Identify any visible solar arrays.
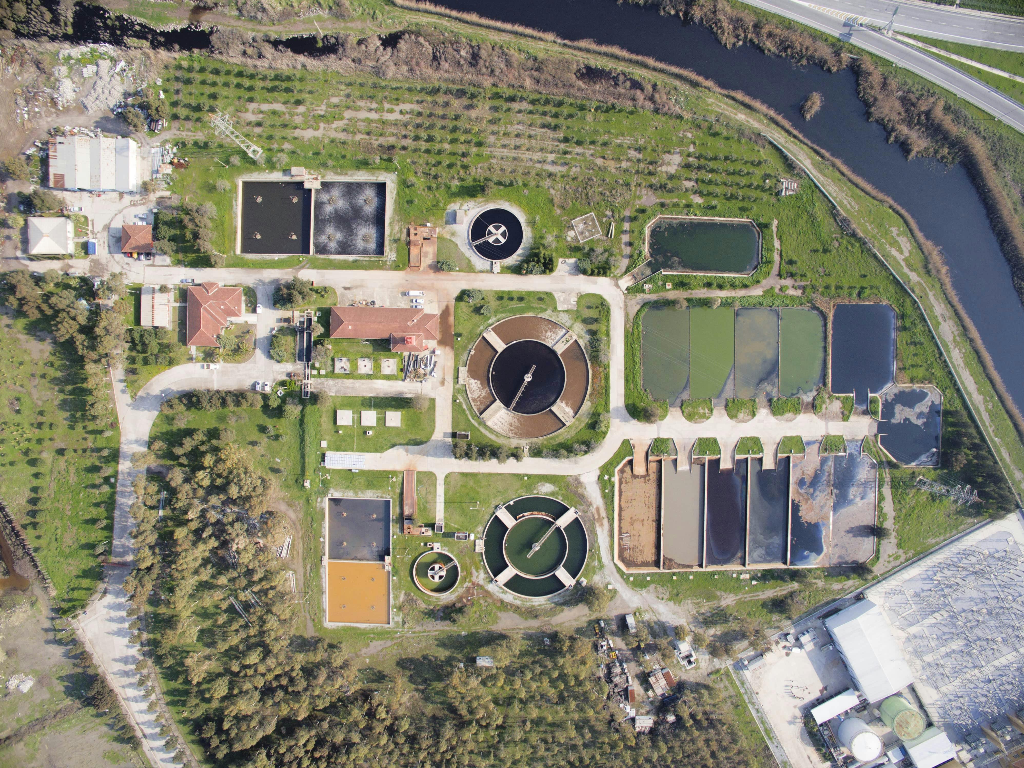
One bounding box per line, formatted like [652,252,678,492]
[326,454,366,468]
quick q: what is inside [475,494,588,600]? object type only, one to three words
storage tank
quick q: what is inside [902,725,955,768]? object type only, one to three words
building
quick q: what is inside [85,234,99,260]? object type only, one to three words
vehicle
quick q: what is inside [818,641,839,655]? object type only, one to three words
vehicle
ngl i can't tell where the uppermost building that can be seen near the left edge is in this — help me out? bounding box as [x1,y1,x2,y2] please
[49,137,149,197]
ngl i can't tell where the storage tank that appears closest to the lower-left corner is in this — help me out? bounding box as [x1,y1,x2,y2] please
[413,543,460,597]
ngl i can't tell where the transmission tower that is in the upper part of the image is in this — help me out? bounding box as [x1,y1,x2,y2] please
[210,109,263,162]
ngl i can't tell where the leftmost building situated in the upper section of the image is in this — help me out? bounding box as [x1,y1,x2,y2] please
[27,217,76,255]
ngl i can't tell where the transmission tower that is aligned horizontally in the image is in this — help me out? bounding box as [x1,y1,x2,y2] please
[909,473,985,506]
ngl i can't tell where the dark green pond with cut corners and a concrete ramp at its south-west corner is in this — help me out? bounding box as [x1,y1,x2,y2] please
[618,215,761,293]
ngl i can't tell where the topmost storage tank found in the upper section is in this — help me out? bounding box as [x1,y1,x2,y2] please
[470,207,524,272]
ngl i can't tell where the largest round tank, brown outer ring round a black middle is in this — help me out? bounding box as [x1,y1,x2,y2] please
[458,315,590,439]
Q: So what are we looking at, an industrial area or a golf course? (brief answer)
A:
industrial area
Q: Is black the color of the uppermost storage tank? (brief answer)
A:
Yes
